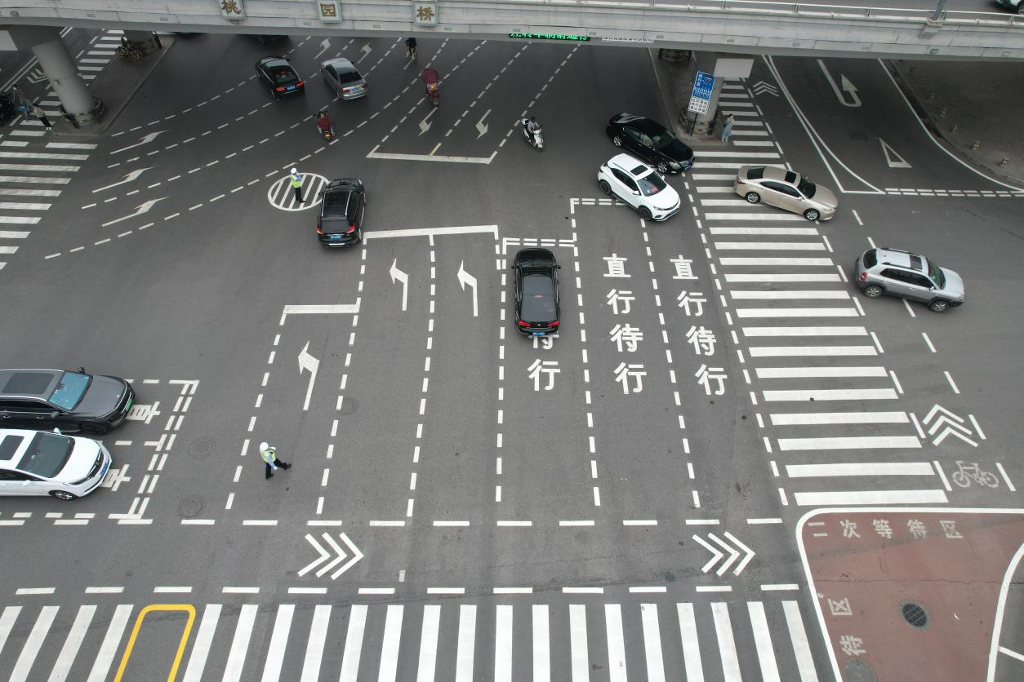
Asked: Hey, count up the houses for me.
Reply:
0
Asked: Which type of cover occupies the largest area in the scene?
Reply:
paved ground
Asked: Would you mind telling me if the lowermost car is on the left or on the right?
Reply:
left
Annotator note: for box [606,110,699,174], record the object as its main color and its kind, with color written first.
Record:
black car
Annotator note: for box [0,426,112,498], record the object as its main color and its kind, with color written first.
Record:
white car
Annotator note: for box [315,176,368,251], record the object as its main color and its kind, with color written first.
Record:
black car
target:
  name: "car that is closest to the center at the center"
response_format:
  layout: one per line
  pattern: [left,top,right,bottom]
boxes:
[510,244,567,336]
